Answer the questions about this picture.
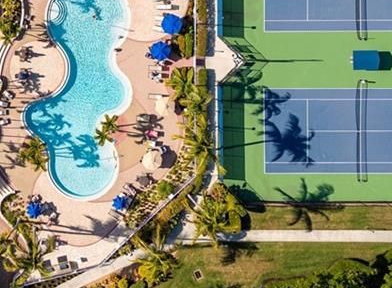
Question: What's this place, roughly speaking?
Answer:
sports ground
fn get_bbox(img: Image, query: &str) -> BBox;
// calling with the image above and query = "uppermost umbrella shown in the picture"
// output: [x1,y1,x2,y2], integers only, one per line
[160,14,181,34]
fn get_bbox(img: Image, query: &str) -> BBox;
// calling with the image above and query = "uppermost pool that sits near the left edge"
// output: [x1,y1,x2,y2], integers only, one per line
[19,0,132,203]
